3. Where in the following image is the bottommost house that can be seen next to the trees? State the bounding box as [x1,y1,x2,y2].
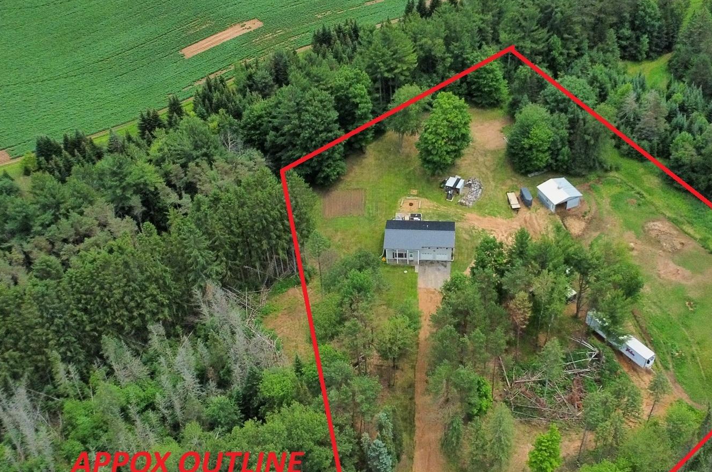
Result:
[384,219,454,265]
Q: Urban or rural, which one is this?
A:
rural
